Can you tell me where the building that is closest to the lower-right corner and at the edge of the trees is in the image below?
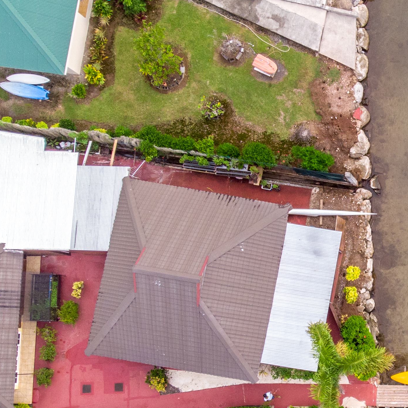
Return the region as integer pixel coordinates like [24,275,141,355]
[83,175,349,383]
